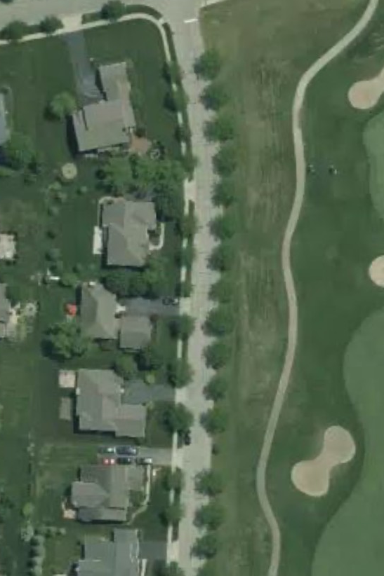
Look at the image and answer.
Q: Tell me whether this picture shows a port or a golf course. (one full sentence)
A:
This image shows a golf course.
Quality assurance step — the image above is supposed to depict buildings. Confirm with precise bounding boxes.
[70,66,135,153]
[102,200,156,267]
[77,369,147,438]
[0,94,10,148]
[0,284,7,338]
[72,466,146,522]
[78,530,140,576]
[81,283,153,349]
